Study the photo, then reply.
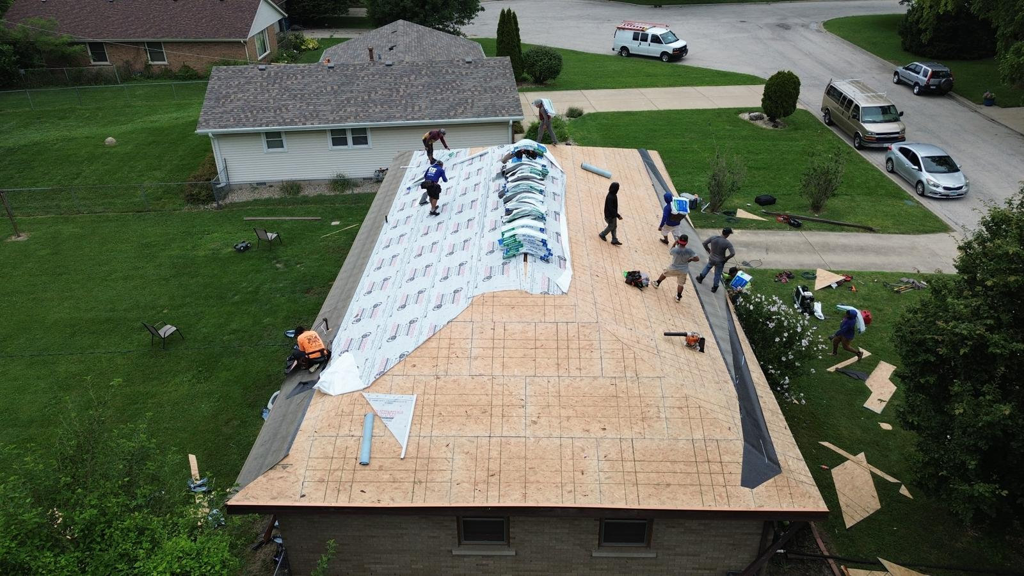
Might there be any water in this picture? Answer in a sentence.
No, the picture contains no water.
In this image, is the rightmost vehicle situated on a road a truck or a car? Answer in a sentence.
From above, the rightmost vehicle situated on a road can be identified as a car.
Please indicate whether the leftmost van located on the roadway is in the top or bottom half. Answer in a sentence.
You can find the leftmost van located on the roadway in the top half.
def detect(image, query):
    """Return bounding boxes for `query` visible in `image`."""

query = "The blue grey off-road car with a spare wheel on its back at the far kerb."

[890,59,960,95]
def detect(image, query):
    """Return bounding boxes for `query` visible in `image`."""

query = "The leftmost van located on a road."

[608,23,695,62]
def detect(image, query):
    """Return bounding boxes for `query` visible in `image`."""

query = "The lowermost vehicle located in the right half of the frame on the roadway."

[883,144,973,200]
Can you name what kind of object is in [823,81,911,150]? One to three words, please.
van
